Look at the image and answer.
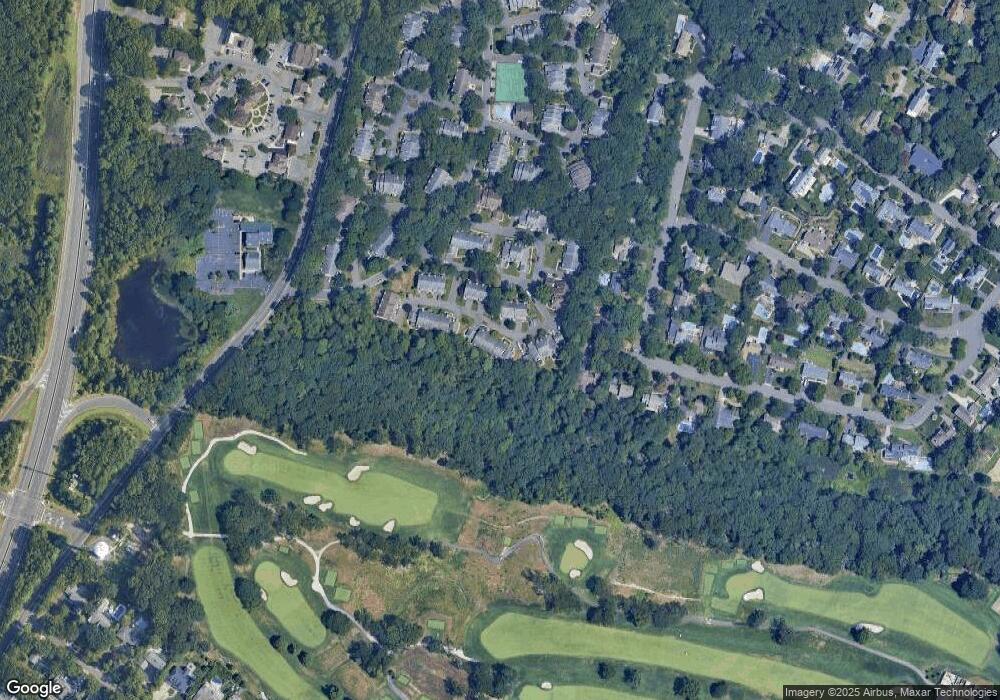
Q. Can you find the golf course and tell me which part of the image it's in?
bottom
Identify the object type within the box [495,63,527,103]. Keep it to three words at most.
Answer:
tennis court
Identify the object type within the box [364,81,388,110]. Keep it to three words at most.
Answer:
house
